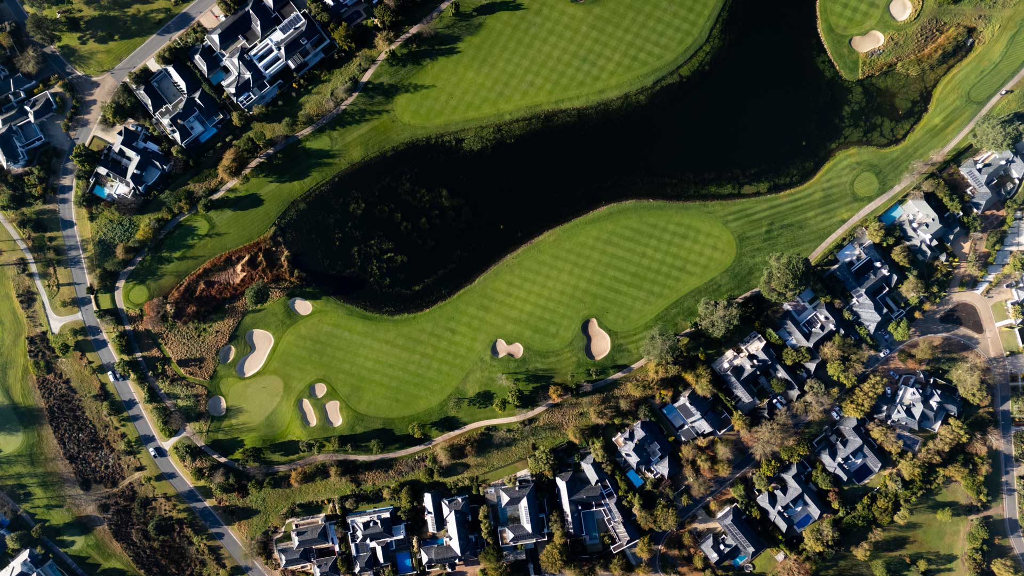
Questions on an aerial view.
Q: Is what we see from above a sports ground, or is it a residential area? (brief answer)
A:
residential area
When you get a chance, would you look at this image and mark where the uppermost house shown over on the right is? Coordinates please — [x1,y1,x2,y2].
[948,146,1024,218]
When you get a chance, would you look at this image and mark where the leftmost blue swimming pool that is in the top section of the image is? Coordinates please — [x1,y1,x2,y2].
[91,184,109,200]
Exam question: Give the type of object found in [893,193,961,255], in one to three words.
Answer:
house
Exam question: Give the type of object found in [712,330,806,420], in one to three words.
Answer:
house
